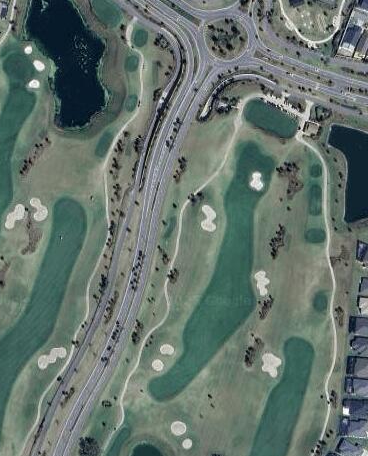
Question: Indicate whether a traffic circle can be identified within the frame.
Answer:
Yes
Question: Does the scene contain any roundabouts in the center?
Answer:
No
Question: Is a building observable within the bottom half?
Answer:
Yes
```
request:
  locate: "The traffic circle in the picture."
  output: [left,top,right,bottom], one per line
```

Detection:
[194,7,261,72]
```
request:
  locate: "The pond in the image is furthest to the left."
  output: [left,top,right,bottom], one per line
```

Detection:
[25,0,105,127]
